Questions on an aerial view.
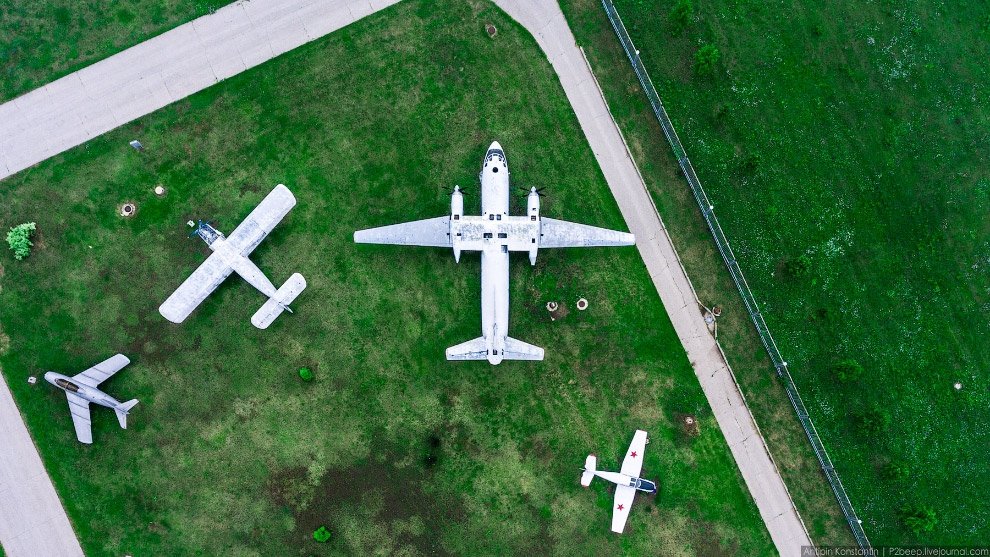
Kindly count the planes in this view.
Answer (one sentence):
The picture shows 4 planes.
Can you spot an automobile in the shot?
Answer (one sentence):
No, no automobile is visible in the scene.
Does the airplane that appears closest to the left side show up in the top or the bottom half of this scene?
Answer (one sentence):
The airplane that appears closest to the left side is in the bottom half of the image.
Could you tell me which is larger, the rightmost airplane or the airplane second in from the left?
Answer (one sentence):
The larger object is the airplane second in from the left, with the rightmost airplane being the smaller of the pair.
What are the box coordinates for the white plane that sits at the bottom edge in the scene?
[579,431,658,533]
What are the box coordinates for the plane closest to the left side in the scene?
[44,354,137,443]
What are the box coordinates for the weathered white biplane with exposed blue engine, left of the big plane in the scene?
[158,186,302,324]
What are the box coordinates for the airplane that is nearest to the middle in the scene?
[356,141,634,366]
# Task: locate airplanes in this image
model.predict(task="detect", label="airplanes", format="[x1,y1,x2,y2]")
[579,431,658,533]
[44,354,137,443]
[158,186,302,324]
[356,141,634,366]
